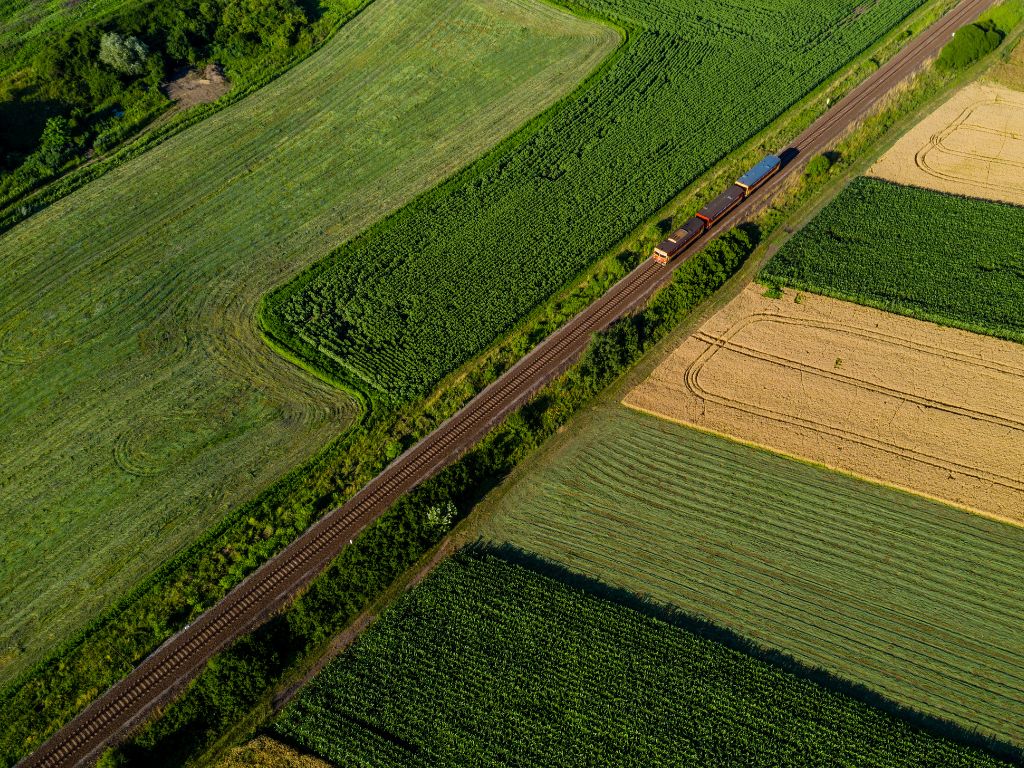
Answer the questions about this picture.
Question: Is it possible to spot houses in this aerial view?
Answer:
No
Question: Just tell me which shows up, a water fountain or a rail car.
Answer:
rail car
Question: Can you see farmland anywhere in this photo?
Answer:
Yes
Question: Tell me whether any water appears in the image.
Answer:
No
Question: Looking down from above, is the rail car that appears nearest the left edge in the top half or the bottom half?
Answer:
top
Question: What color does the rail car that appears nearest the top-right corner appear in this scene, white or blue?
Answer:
blue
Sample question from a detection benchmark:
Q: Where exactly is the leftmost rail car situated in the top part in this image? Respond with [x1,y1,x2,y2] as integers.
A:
[652,215,705,264]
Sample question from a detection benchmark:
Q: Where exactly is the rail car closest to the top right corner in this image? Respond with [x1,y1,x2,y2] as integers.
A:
[736,154,781,197]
